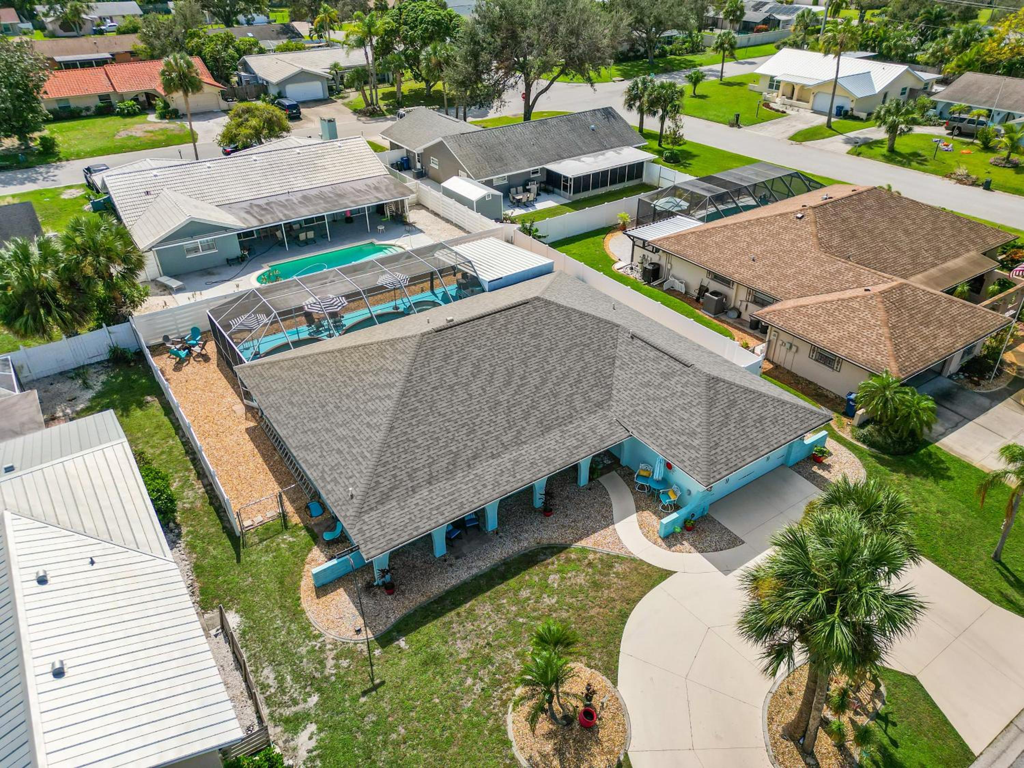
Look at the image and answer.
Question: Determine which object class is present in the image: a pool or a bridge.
pool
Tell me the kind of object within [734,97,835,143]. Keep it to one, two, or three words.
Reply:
house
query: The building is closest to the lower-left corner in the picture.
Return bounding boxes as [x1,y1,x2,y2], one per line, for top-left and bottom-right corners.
[0,392,245,768]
